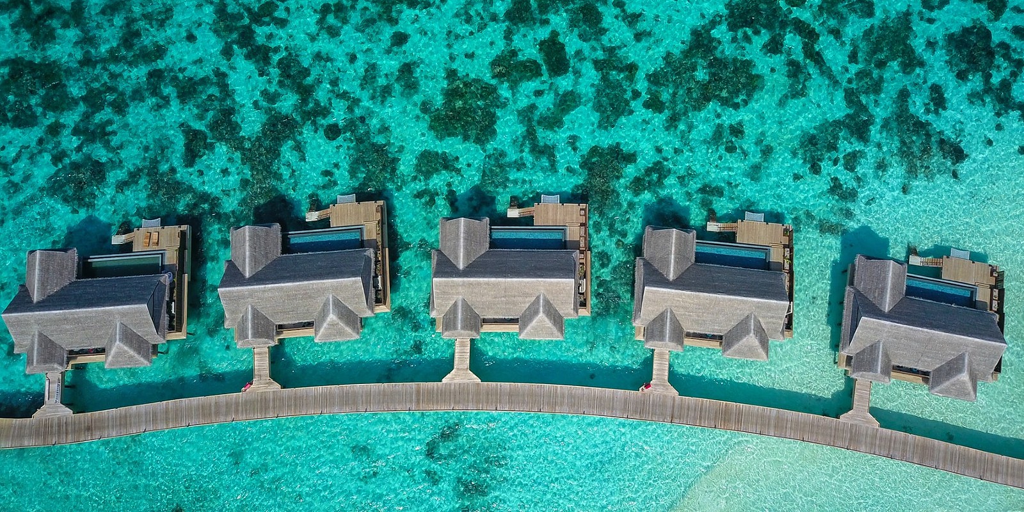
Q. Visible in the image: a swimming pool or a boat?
swimming pool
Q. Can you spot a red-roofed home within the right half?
No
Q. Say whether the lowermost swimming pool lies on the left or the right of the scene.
right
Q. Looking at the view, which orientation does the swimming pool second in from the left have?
from left to right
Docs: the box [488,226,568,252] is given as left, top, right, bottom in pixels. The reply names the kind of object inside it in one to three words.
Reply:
swimming pool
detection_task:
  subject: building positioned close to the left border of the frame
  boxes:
[1,219,194,374]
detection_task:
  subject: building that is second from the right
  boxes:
[631,213,794,361]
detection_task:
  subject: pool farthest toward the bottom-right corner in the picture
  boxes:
[904,273,977,310]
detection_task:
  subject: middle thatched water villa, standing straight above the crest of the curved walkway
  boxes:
[427,195,591,341]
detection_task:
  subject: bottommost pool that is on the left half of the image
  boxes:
[87,250,169,281]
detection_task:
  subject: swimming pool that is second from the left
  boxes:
[286,226,366,256]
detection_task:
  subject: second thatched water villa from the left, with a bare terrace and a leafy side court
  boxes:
[218,195,391,348]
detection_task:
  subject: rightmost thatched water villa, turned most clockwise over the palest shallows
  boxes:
[836,249,1008,402]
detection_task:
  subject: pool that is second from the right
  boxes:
[694,240,771,271]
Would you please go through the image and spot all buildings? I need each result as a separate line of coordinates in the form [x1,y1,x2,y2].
[427,195,591,341]
[631,213,794,361]
[836,249,1008,402]
[218,195,391,348]
[1,219,194,374]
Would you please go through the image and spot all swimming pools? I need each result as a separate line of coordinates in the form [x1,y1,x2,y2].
[904,273,977,310]
[694,240,771,271]
[488,226,568,252]
[286,226,366,256]
[87,250,169,281]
